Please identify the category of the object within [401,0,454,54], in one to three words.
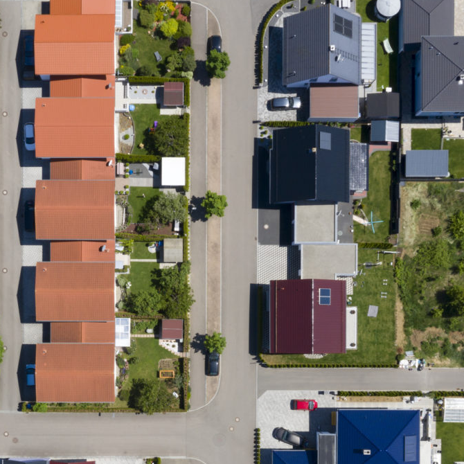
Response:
building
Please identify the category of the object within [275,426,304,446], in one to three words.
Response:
car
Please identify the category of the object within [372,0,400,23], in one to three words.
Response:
water tank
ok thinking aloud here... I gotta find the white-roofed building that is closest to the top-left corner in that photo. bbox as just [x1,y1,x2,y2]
[162,158,186,187]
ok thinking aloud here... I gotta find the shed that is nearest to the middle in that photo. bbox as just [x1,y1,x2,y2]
[163,239,183,263]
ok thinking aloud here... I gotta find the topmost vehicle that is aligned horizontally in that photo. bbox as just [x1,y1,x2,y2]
[268,96,299,110]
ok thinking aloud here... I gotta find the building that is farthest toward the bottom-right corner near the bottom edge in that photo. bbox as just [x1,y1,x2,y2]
[333,410,421,464]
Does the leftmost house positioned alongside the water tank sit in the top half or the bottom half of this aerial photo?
top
